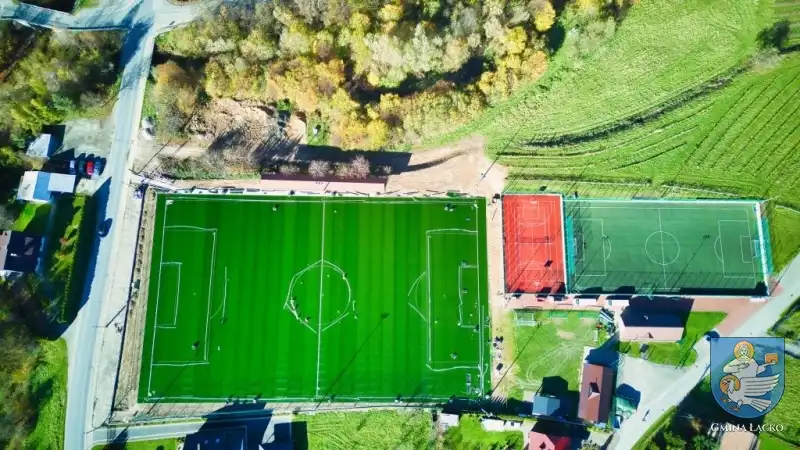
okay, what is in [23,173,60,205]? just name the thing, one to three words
house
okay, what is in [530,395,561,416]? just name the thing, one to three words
shed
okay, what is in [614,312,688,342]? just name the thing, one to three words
building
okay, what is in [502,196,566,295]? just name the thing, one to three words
basketball court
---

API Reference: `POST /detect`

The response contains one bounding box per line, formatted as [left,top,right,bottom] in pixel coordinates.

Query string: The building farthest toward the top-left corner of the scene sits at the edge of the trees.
[29,134,55,159]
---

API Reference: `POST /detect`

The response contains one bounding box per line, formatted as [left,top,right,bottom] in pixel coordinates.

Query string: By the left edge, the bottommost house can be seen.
[1,230,48,273]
